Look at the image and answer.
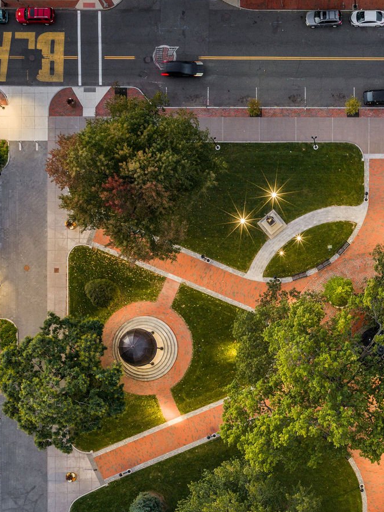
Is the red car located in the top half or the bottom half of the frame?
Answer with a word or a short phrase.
top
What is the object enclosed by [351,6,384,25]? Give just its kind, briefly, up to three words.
car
